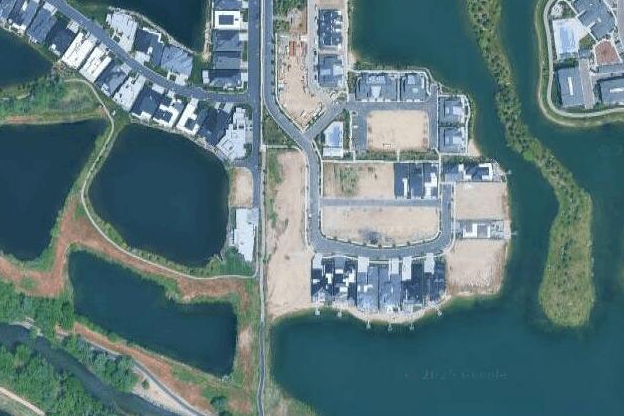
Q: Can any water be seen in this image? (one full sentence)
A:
Yes, water shows up in the scene.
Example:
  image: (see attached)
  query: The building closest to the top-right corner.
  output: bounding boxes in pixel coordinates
[573,0,616,40]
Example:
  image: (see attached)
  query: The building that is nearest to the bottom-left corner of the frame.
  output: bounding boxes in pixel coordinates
[233,209,254,261]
